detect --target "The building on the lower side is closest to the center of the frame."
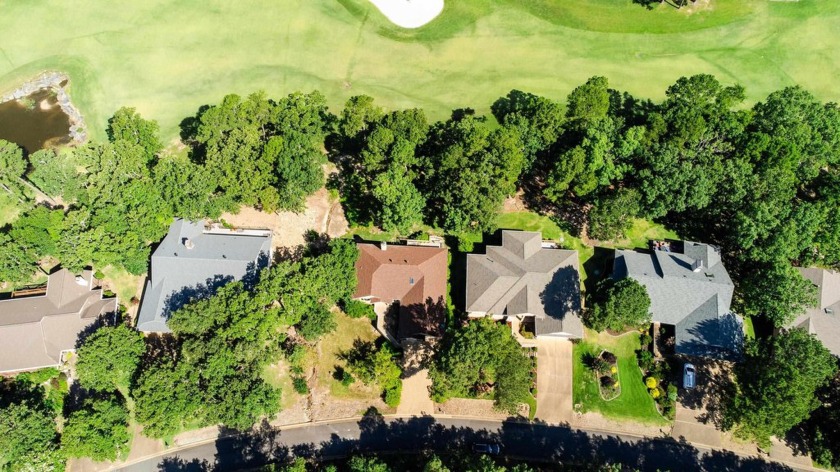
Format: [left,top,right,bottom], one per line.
[353,234,447,337]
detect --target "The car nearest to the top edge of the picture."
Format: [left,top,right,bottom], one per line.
[682,362,696,391]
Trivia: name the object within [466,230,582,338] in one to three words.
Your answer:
house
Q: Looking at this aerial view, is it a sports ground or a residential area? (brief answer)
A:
residential area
